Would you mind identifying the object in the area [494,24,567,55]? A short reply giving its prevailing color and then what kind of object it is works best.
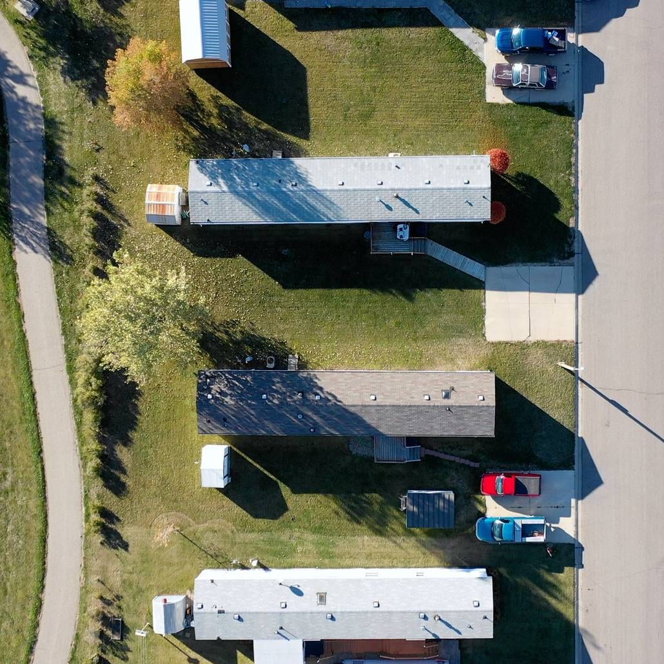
blue truck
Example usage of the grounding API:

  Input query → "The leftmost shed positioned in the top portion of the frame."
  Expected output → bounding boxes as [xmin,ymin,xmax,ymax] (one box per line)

[140,184,185,225]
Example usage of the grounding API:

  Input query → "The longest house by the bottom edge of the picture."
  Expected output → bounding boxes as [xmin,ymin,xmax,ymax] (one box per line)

[193,569,494,641]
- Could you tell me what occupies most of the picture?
paved ground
